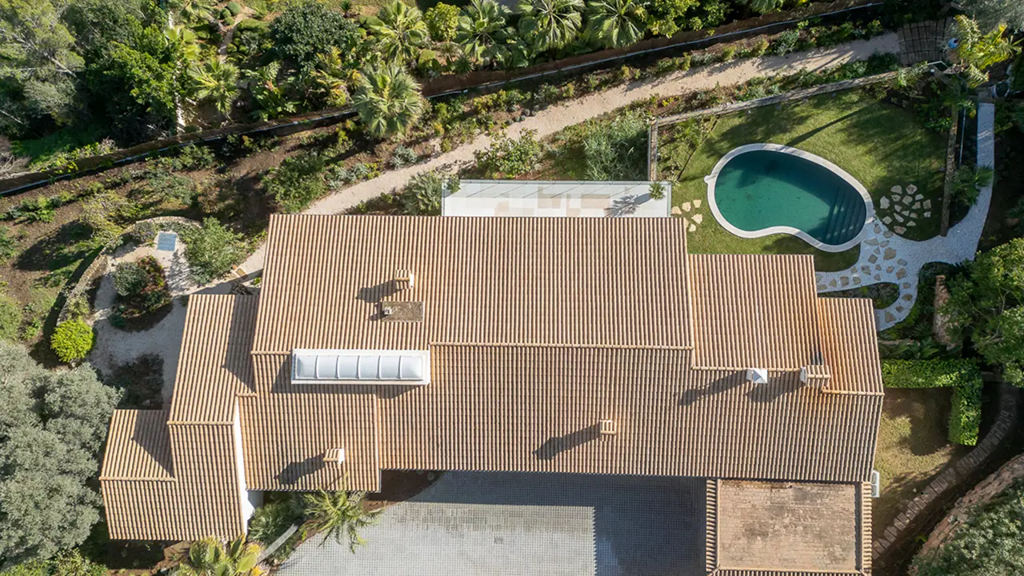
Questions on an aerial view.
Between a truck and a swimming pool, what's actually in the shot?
swimming pool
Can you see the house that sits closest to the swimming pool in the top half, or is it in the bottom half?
bottom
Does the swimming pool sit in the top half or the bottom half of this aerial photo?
top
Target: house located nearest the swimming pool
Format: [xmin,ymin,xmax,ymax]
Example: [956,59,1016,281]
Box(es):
[97,212,886,542]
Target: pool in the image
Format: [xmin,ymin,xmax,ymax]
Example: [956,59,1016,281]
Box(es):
[704,143,874,251]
